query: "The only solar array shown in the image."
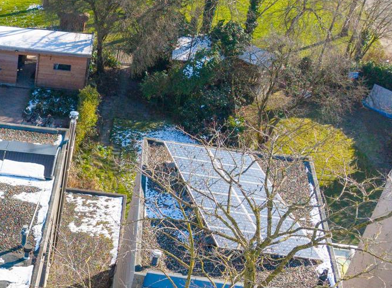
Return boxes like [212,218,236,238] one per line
[160,142,317,258]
